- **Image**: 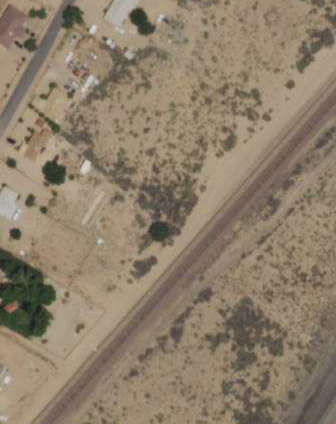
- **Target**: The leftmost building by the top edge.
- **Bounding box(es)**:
[0,5,26,50]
